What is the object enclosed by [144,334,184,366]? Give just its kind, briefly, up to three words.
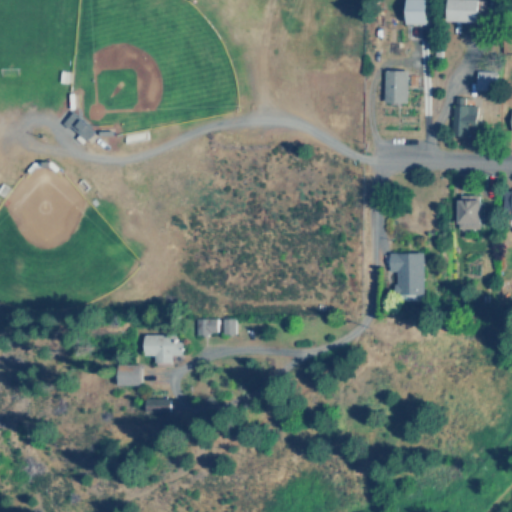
house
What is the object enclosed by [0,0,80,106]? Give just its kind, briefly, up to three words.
soccer field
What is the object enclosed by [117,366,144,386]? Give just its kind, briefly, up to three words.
building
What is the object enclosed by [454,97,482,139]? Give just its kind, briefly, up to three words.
house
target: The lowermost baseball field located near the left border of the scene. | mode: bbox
[0,166,140,306]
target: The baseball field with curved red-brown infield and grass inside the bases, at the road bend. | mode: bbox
[77,0,239,128]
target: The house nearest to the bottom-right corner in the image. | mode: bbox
[390,253,426,300]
